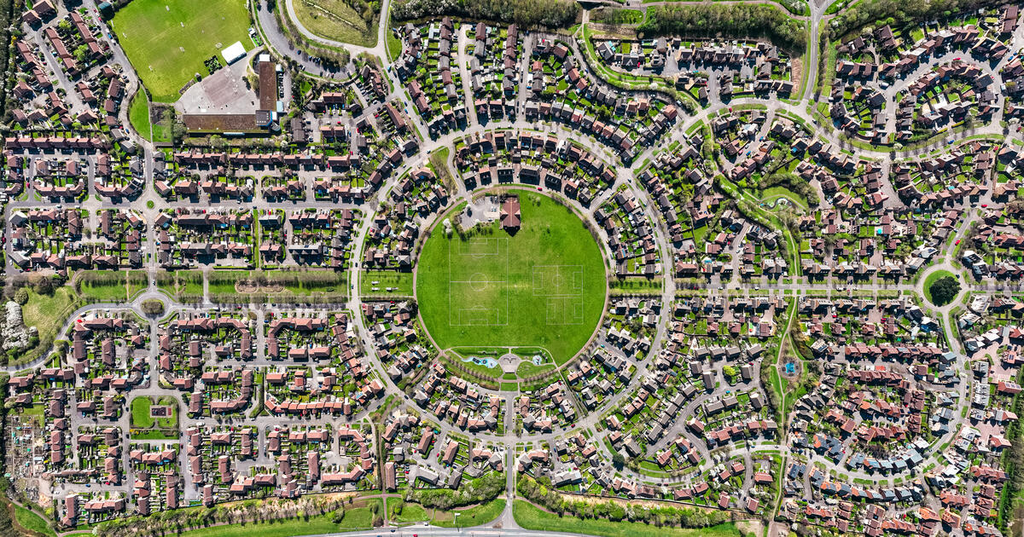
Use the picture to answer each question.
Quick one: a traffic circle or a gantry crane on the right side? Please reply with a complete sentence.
Looking on the right side, you will find a traffic circle.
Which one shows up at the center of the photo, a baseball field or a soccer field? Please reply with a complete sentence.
You can see a soccer field at the center of the photo.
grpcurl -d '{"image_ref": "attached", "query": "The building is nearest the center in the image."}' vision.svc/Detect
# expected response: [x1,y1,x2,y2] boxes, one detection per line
[499,196,521,229]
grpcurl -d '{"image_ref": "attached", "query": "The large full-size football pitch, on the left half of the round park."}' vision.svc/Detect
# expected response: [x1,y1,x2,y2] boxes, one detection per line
[448,236,509,326]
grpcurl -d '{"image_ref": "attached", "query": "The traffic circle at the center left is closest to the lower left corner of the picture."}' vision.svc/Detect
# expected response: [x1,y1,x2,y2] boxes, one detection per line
[135,288,170,323]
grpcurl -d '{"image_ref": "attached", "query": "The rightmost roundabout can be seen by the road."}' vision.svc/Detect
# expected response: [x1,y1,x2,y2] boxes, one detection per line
[917,263,967,313]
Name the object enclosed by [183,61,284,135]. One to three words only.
building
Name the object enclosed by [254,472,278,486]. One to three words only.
house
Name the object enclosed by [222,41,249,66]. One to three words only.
building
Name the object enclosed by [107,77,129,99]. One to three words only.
house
